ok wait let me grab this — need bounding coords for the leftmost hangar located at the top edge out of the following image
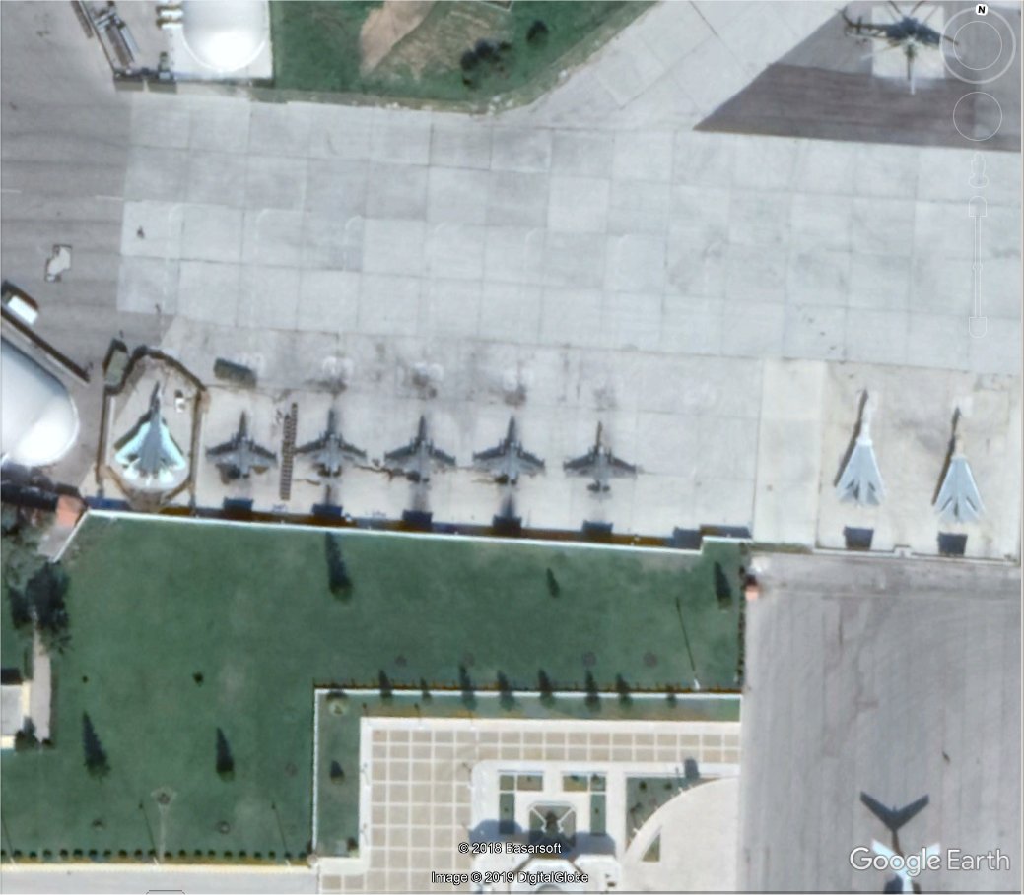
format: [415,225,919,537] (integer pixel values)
[179,0,271,70]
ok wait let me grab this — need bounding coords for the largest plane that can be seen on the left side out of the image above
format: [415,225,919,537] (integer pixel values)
[116,389,186,485]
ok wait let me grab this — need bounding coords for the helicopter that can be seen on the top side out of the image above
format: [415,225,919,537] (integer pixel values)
[841,0,962,88]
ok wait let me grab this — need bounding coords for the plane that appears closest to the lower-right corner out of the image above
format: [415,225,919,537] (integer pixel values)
[873,841,941,895]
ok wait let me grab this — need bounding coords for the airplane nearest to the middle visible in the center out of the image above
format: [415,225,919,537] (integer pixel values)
[476,422,548,486]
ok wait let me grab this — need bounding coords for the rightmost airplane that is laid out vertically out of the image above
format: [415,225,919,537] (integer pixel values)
[932,408,985,522]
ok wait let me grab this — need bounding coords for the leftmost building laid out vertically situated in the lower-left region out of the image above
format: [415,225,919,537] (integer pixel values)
[0,682,29,747]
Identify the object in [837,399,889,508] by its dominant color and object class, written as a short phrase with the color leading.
white airplane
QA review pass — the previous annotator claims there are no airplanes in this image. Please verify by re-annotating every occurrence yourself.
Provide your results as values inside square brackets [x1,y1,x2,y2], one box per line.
[386,419,458,483]
[565,426,636,493]
[837,399,889,508]
[116,389,186,485]
[873,841,941,895]
[297,415,369,480]
[932,408,985,522]
[207,411,279,480]
[476,422,548,486]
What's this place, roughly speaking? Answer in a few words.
airport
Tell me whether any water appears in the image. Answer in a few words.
No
